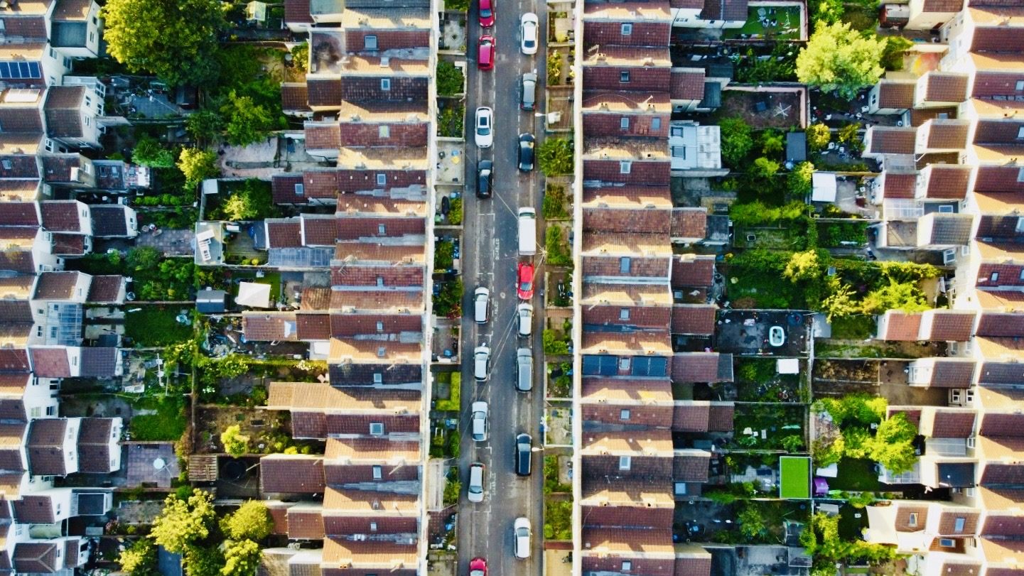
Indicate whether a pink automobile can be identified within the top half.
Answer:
Yes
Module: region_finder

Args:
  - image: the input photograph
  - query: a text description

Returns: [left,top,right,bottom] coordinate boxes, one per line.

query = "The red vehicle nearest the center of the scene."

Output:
[517,263,535,299]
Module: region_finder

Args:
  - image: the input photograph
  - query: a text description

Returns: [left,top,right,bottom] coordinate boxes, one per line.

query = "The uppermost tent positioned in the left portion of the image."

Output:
[236,282,277,309]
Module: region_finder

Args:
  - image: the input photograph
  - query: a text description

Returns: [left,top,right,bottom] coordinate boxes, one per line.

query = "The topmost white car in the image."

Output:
[520,15,538,56]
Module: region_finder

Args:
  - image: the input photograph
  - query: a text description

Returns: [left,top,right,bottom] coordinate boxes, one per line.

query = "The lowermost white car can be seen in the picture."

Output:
[513,516,532,559]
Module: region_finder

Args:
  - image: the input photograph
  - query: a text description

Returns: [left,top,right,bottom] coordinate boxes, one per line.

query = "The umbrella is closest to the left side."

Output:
[155,456,173,469]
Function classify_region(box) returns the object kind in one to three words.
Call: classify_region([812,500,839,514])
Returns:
shed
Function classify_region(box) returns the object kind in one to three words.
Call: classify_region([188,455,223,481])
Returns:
shed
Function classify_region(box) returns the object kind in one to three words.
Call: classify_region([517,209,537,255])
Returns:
vehicle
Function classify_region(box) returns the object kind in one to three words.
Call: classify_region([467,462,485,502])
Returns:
car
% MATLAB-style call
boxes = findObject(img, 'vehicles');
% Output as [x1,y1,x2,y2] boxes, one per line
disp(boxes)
[473,287,490,323]
[516,303,533,337]
[517,209,537,255]
[521,75,537,111]
[478,0,495,29]
[517,263,535,299]
[477,38,496,71]
[467,462,485,502]
[468,554,487,576]
[514,432,531,476]
[473,346,491,381]
[474,108,494,148]
[515,347,533,391]
[470,401,489,441]
[513,516,532,559]
[520,15,538,56]
[476,161,494,198]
